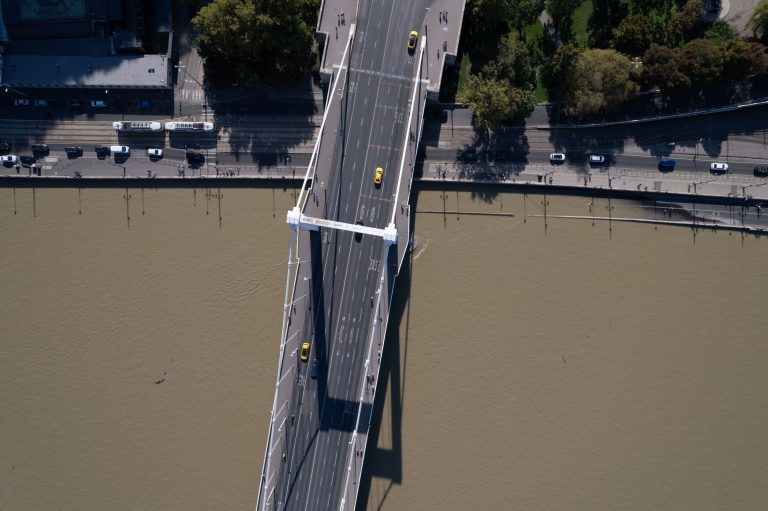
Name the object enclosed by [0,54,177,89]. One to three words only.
building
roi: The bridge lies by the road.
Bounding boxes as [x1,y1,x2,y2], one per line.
[254,0,465,511]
